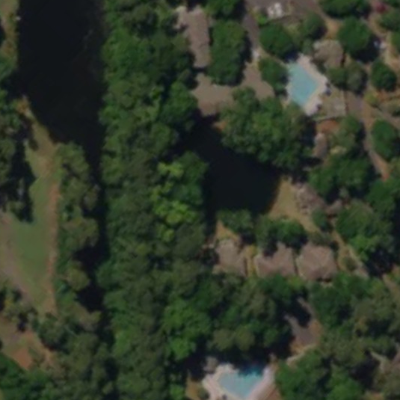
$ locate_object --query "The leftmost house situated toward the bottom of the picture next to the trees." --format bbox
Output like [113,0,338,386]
[216,241,243,276]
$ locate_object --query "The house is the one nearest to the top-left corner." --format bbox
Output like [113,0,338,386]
[174,4,208,68]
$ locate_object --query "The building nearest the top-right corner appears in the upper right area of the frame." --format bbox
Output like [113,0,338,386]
[315,40,344,67]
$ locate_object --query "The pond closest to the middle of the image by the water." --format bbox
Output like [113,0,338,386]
[193,127,280,221]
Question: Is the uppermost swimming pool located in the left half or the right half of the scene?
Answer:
right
